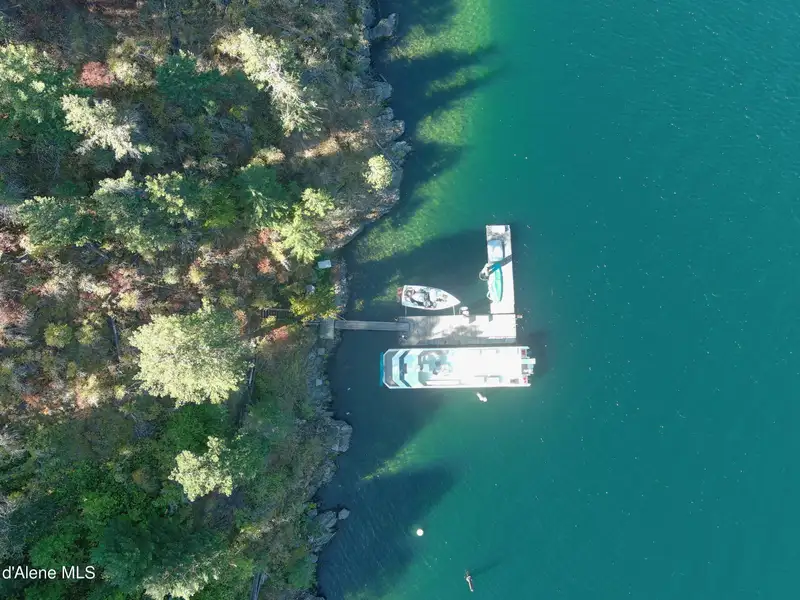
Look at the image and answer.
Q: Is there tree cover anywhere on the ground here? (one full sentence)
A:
Yes, there's tree cover in this view.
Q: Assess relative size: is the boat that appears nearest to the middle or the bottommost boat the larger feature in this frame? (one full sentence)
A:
The larger object is the bottommost boat, with the boat that appears nearest to the middle being the smaller of the pair.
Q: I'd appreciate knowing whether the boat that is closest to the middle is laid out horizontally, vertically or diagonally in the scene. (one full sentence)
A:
From this overhead view, the boat that is closest to the middle appears to run horizontally.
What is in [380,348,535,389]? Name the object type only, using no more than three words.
boat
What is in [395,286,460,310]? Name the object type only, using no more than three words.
boat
